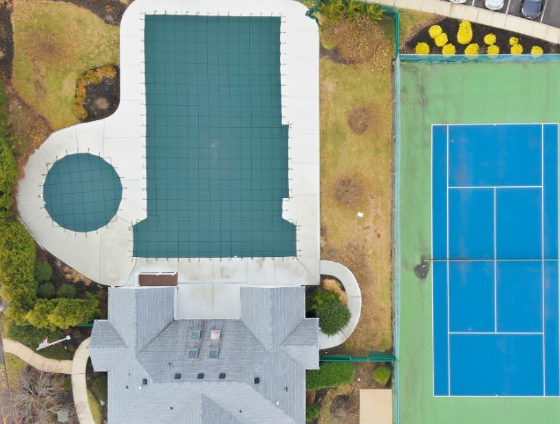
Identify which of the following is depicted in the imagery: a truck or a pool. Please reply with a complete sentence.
I can see a pool in this picture.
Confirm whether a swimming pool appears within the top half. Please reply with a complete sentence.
Yes, a swimming pool can be seen within the top half.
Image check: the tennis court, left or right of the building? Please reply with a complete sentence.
The tennis court can be seen on the right of the building.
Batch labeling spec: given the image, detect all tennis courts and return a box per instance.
[399,61,560,424]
